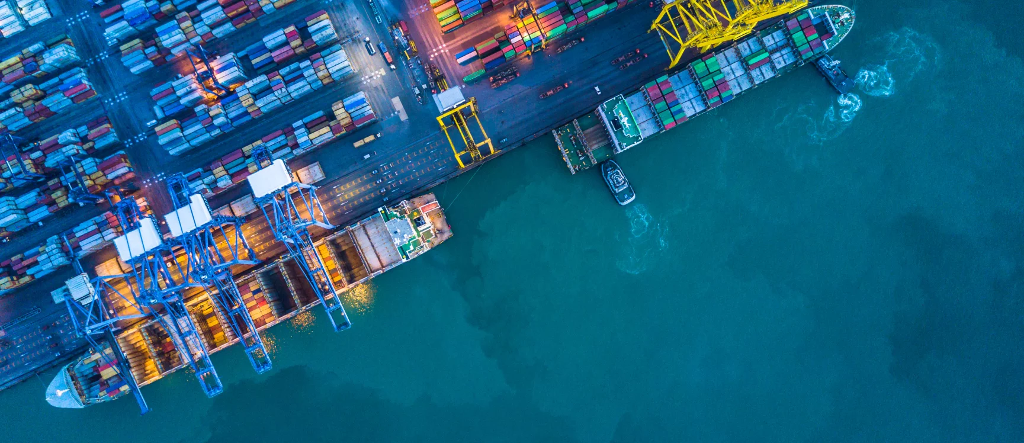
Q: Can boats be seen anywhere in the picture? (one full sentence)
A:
Yes, the photo shows a boat.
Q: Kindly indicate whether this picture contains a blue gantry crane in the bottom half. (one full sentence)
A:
Yes, there is a blue gantry crane in the bottom half.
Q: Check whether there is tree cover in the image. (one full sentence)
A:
No, the picture contains no tree cover.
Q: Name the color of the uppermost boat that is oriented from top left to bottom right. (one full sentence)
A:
The uppermost boat that is oriented from top left to bottom right looks blue in the image.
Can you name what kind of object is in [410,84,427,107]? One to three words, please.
work vehicle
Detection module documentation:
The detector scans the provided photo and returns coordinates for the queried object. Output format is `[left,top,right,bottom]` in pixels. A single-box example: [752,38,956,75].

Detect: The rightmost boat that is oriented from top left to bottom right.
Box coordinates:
[811,55,852,100]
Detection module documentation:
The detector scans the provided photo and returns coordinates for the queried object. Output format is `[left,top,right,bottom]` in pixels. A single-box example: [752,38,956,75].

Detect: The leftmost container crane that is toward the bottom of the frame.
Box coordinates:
[56,239,164,416]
